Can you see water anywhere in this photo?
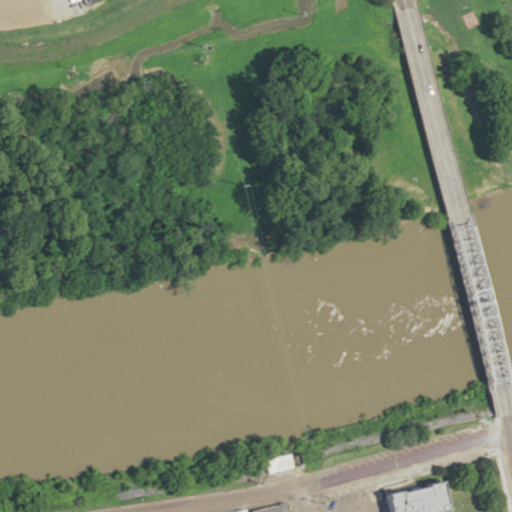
Yes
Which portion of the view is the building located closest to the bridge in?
bottom right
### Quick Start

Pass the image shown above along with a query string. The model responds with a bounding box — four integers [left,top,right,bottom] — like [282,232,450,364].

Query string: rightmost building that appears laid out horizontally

[386,480,456,512]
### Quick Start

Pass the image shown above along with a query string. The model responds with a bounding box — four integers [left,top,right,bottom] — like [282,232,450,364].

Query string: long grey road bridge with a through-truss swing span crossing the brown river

[394,2,512,419]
